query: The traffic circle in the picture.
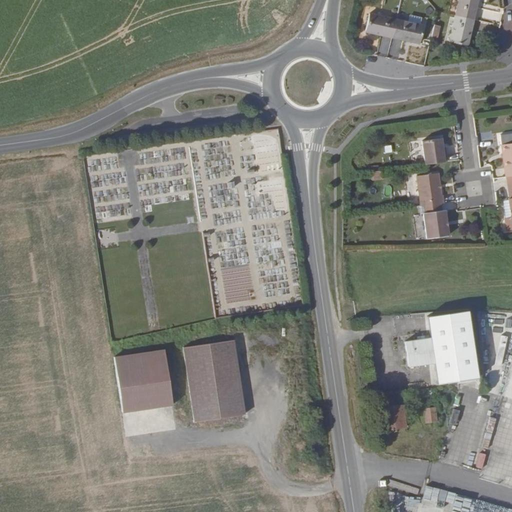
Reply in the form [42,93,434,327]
[262,37,354,129]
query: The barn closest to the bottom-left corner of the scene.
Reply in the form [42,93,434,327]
[114,350,173,412]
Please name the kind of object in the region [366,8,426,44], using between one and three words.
house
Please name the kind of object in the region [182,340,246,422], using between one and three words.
barn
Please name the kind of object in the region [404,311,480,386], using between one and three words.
building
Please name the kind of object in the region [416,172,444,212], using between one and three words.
house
